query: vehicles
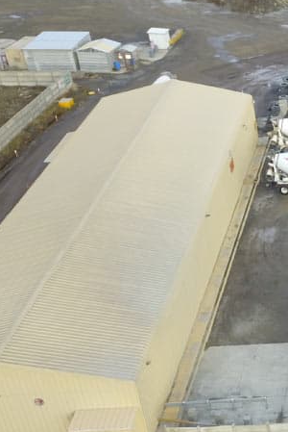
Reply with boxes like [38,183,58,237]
[268,146,288,190]
[268,115,288,150]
